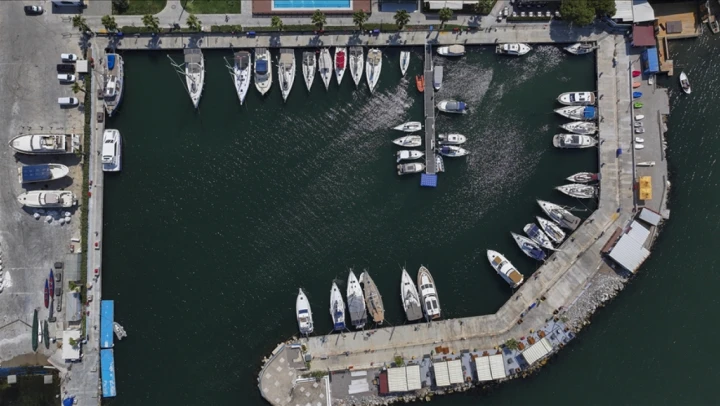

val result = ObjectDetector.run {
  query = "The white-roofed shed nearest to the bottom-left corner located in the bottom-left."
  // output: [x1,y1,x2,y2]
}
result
[63,330,85,359]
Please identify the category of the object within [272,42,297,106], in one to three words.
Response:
boat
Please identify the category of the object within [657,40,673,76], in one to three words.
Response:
pier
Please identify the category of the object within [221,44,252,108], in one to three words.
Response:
boat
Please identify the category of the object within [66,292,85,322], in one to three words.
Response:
shed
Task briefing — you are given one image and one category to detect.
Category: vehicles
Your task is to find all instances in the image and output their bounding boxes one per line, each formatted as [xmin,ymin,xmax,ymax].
[24,5,45,15]
[56,72,77,83]
[56,96,80,106]
[56,63,77,73]
[58,52,79,63]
